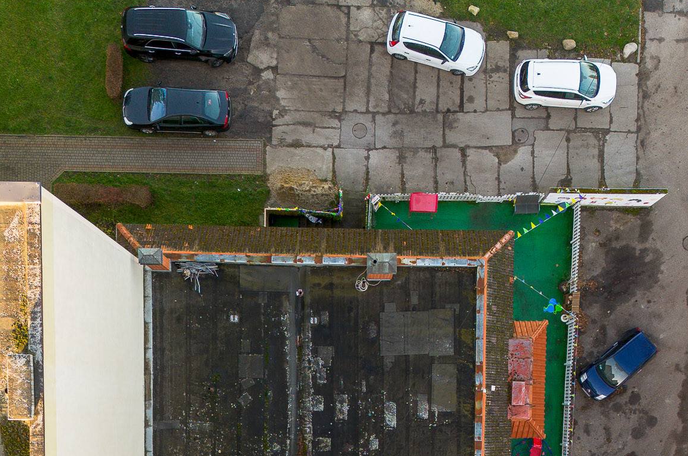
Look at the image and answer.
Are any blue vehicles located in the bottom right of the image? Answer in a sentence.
Yes, a blue vehicle can be seen in the bottom right of the image.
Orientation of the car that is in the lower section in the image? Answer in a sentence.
I'd say the car that is in the lower section is aligned on a diagonal in the picture.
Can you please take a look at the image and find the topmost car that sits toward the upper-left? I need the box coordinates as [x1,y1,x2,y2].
[122,8,236,70]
